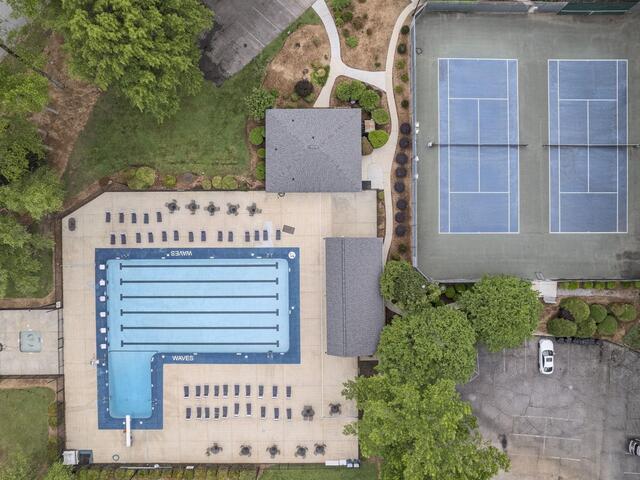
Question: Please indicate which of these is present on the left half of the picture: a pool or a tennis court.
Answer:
pool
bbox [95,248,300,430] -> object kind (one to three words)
swimming pool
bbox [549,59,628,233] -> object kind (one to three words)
tennis court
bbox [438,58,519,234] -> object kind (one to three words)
tennis court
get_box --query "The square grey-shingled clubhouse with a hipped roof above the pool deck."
[264,109,362,192]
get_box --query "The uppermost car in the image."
[536,338,556,374]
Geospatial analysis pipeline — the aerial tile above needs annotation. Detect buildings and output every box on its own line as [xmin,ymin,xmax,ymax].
[325,234,385,358]
[264,109,362,192]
